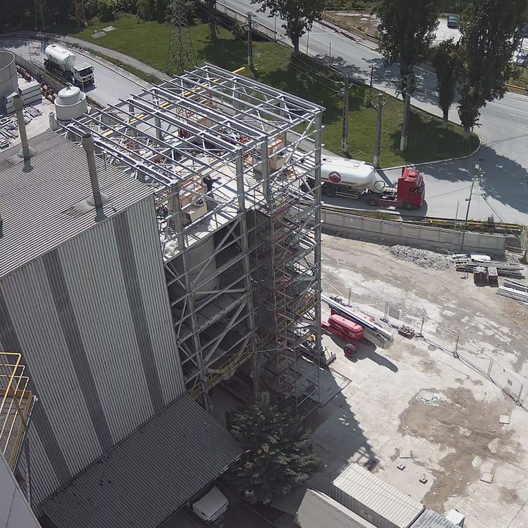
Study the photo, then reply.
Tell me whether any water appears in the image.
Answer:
No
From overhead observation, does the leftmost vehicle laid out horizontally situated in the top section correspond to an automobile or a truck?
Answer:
truck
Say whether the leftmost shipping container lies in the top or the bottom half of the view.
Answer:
bottom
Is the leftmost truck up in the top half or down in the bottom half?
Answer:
top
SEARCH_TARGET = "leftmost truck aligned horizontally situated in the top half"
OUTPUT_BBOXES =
[310,155,424,209]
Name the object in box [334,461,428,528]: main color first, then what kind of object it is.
white shipping container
